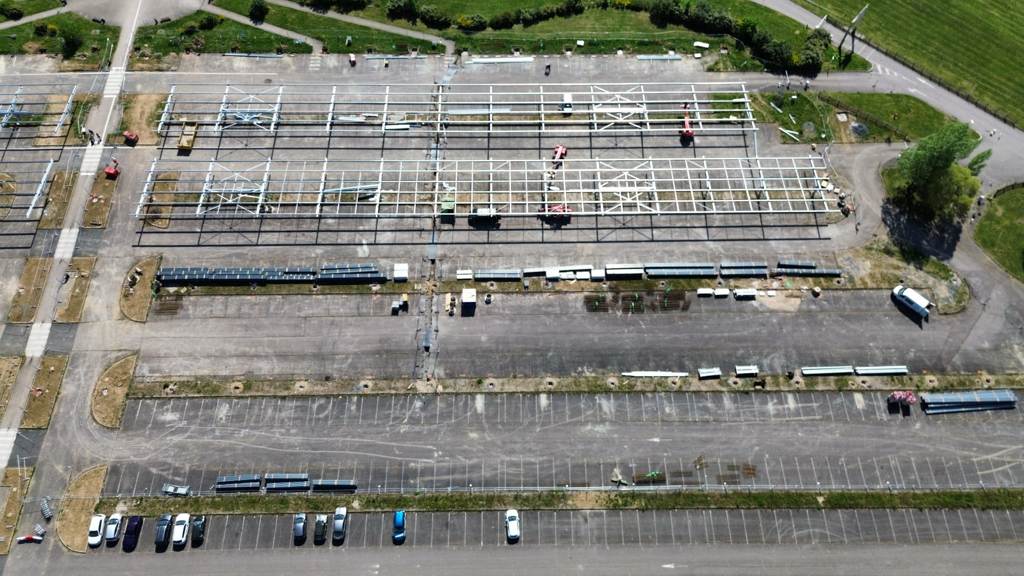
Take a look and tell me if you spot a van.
Yes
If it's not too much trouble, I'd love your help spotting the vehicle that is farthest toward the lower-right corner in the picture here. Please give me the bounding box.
[891,287,937,321]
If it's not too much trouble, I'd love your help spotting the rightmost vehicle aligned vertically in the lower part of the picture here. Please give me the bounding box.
[506,510,520,541]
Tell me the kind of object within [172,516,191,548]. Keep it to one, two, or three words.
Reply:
car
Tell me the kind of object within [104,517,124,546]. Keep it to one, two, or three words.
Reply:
car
